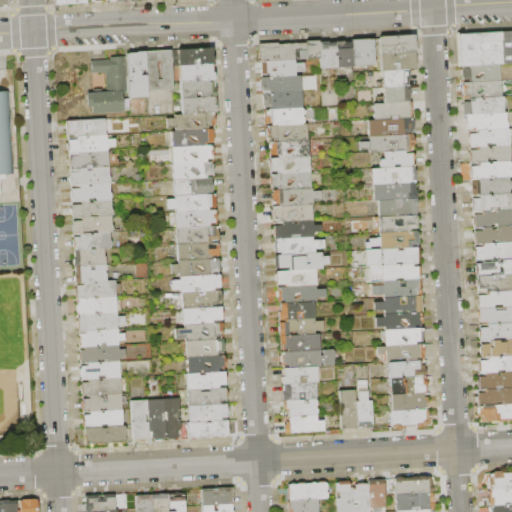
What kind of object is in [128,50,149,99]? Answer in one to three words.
house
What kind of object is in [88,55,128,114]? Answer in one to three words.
building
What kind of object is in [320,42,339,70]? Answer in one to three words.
house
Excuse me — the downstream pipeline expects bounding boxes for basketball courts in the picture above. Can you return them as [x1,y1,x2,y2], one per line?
[0,200,25,270]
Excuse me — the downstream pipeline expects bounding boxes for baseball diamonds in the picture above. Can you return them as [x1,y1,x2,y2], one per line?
[0,274,29,436]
